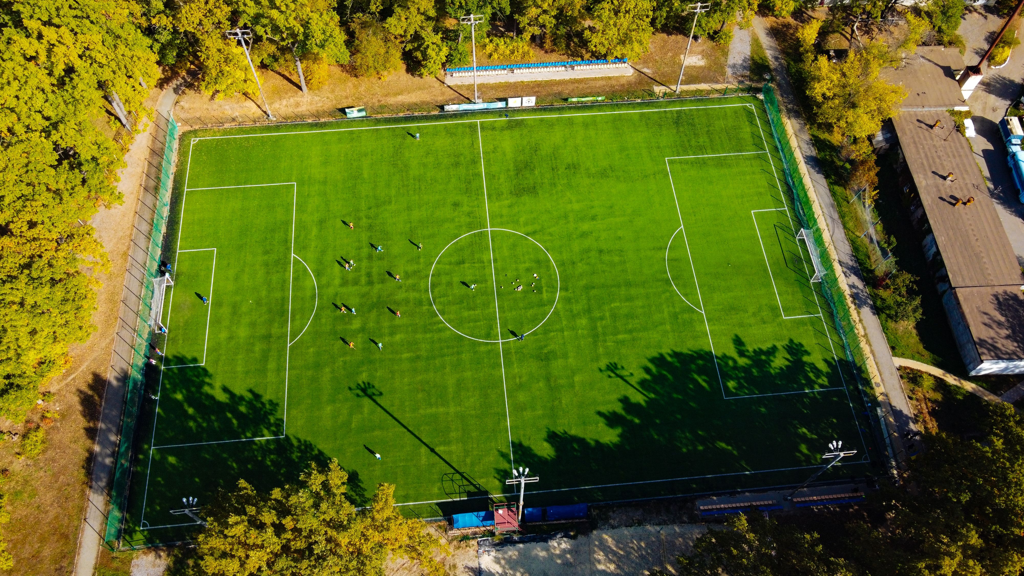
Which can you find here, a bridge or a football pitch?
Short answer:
football pitch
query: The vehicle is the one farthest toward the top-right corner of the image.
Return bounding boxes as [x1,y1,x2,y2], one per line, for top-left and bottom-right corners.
[997,116,1024,160]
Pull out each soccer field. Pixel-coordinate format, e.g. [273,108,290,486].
[123,95,889,548]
